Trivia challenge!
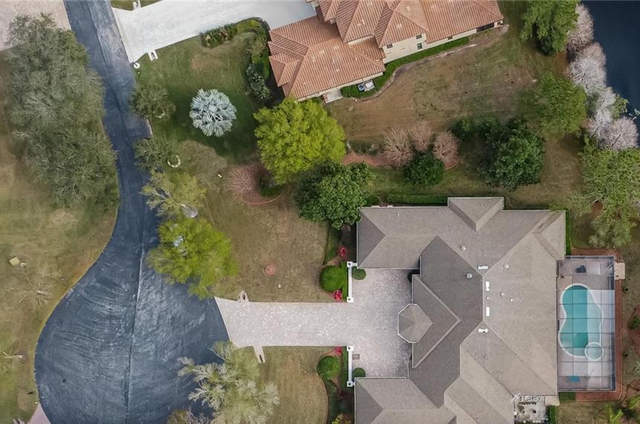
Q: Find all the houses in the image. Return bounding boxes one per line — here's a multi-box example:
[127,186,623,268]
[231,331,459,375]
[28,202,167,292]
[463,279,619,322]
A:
[268,0,503,102]
[354,196,566,424]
